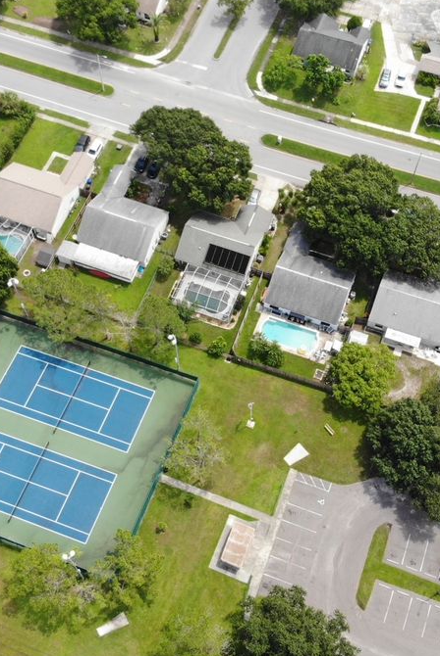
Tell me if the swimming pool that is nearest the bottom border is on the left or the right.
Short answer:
right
